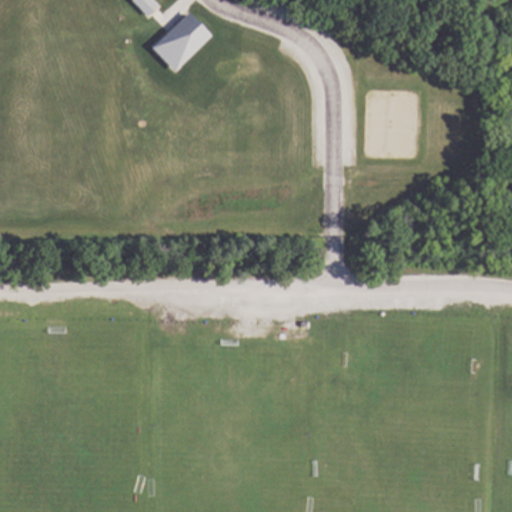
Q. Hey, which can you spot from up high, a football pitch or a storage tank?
football pitch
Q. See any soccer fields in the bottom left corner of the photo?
Yes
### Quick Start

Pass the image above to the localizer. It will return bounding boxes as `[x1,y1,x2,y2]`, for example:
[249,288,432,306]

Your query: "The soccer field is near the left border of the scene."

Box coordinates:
[0,326,138,512]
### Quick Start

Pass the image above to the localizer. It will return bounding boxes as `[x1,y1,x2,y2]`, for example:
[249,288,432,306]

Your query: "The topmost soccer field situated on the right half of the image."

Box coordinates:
[343,322,476,412]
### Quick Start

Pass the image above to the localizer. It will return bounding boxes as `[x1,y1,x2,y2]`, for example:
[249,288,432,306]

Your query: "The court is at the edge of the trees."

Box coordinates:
[364,90,419,158]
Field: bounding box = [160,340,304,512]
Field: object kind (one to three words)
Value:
soccer field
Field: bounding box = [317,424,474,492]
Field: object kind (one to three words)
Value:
soccer field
